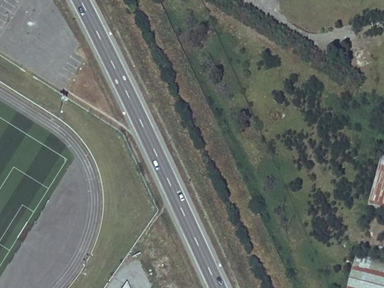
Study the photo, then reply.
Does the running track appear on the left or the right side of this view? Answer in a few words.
left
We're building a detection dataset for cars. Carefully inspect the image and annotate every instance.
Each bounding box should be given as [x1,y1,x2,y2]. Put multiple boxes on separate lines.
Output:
[152,160,159,170]
[178,190,185,201]
[78,5,85,16]
[216,276,224,286]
